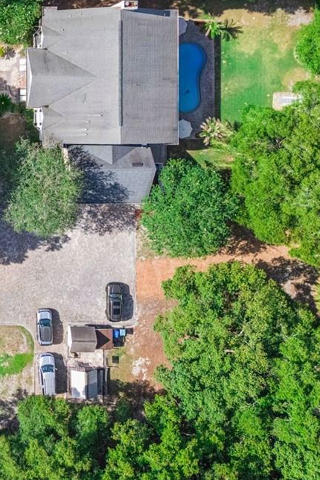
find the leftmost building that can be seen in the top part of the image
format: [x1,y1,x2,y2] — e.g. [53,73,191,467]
[16,0,179,203]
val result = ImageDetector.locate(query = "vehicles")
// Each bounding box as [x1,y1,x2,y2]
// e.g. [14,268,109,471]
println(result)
[104,281,123,319]
[37,352,56,396]
[36,308,54,344]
